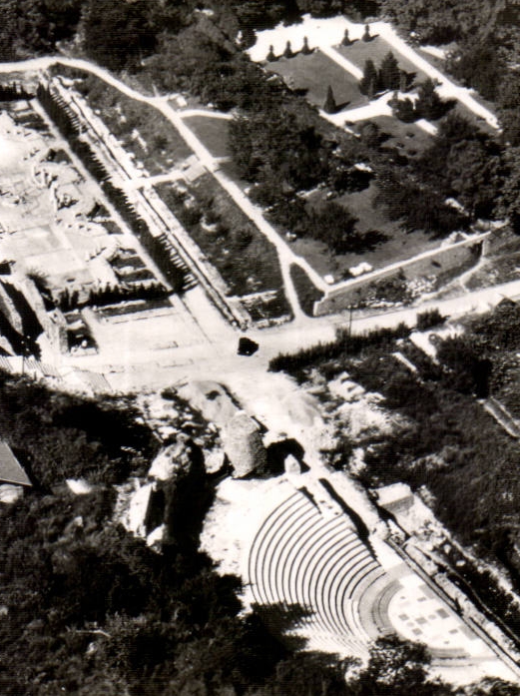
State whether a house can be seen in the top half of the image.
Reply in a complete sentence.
No, the scene shows no house in the top half of the image.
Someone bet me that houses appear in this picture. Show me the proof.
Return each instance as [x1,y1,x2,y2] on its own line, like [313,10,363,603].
[373,485,414,520]
[0,441,32,506]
